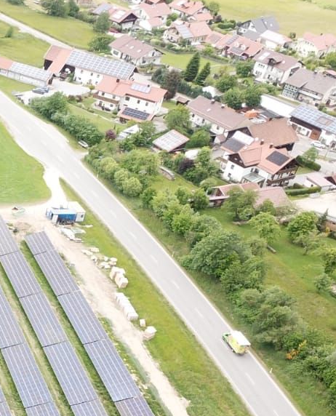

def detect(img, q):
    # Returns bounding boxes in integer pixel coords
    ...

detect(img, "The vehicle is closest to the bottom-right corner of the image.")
[225,333,254,358]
